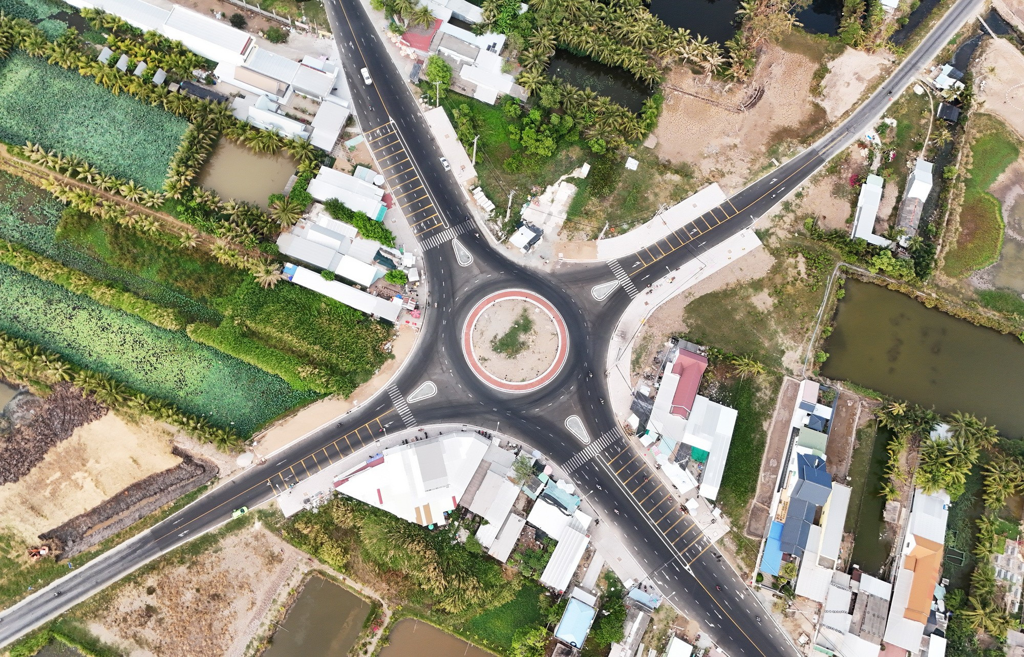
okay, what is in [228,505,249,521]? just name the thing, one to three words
car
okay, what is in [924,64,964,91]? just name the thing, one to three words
building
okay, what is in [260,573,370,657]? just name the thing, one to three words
pond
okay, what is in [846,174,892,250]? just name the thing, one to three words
house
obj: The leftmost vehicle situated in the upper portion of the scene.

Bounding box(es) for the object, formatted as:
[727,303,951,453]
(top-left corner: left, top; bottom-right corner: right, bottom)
[360,65,372,83]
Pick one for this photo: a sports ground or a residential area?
residential area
